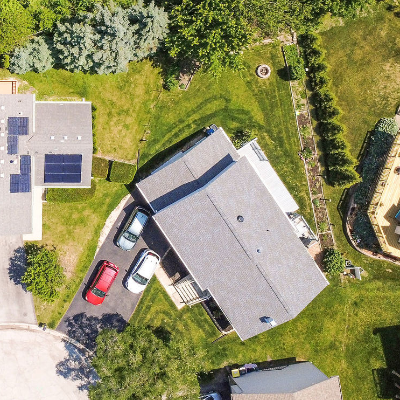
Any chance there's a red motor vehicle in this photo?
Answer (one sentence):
Yes, looking at the shot, I can spot a red motor vehicle.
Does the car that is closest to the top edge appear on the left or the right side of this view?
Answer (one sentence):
The car that is closest to the top edge sits on the left side.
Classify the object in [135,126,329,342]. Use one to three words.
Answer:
house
